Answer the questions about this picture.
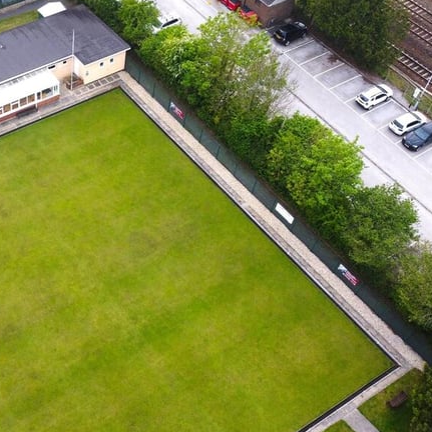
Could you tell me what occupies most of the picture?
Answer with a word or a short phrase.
grass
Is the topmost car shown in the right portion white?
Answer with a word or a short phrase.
No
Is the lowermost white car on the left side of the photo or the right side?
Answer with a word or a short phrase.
right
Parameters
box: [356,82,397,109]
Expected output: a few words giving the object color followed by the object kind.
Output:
white car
